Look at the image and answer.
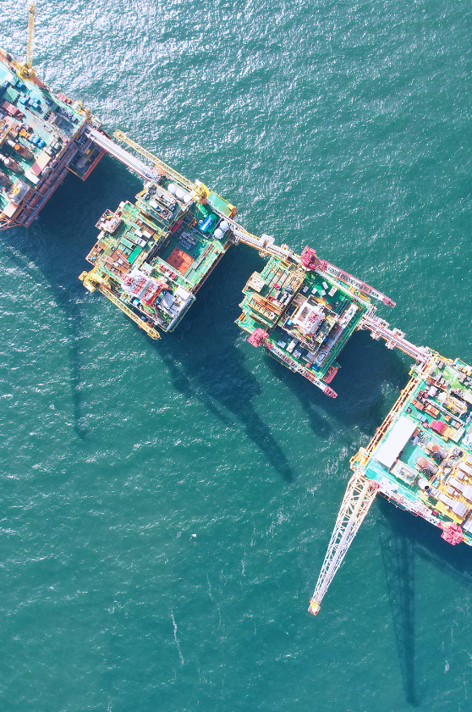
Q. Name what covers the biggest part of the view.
water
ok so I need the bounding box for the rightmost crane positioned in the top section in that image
[292,247,397,309]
